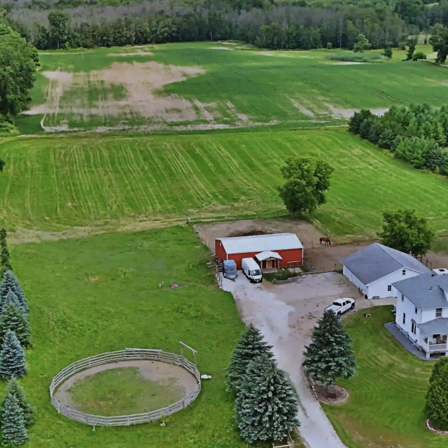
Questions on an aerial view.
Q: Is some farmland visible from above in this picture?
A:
Yes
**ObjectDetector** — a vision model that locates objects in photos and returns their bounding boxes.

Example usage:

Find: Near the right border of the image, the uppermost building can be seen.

[338,242,432,299]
